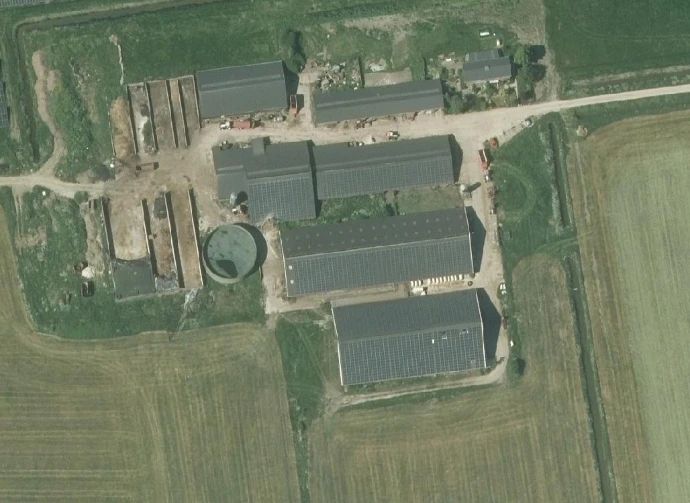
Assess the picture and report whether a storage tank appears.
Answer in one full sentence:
Yes, a storage tank can be made out from above.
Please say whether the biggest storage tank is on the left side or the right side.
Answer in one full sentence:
The biggest storage tank is on the left side of the image.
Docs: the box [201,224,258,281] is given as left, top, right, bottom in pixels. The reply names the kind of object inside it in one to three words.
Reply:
storage tank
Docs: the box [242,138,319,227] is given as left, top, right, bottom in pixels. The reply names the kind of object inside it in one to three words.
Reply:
barn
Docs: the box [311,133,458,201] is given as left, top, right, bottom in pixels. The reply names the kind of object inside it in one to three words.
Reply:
barn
